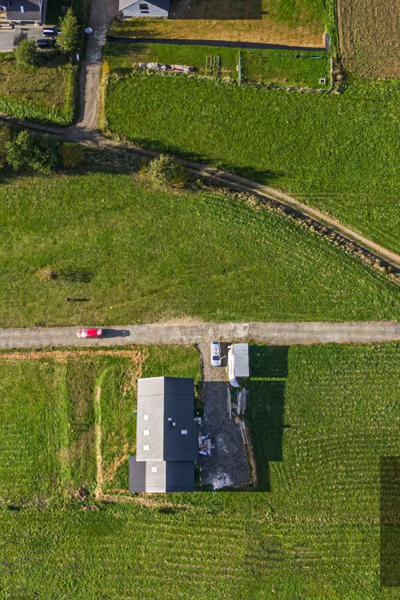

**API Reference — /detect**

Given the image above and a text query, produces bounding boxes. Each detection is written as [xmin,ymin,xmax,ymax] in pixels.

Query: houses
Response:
[128,375,199,492]
[120,0,187,26]
[0,0,55,38]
